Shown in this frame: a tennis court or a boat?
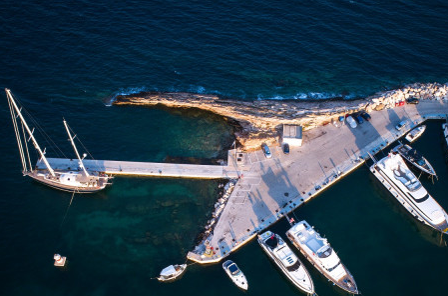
boat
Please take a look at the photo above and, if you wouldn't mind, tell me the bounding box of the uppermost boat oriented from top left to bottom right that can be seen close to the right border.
[388,134,439,183]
